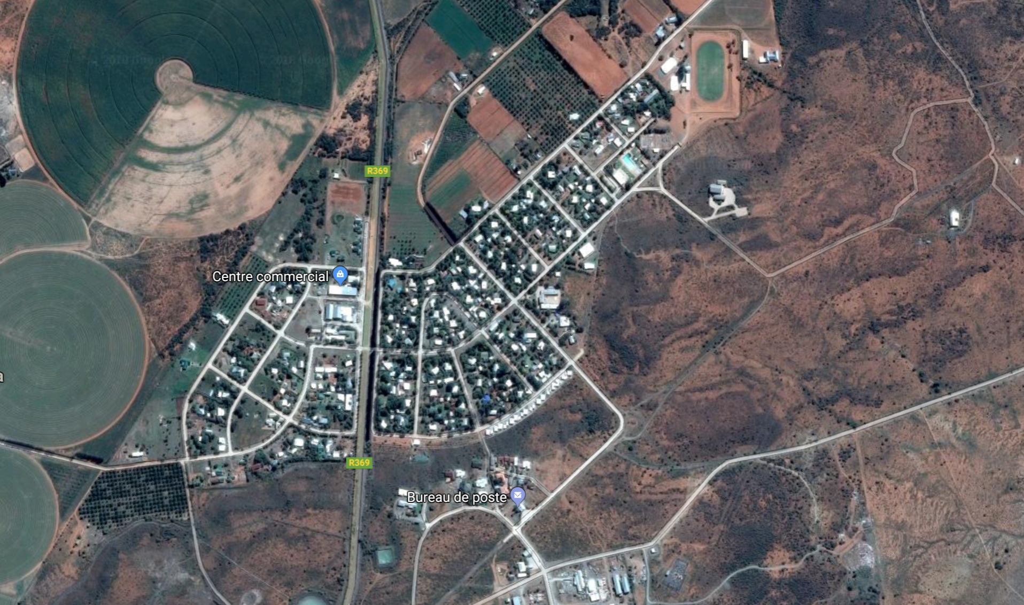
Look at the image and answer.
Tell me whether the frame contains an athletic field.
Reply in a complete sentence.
Yes, there's an athletic field down there.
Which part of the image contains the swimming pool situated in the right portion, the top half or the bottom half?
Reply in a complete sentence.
It is in the top half that the swimming pool situated in the right portion appears.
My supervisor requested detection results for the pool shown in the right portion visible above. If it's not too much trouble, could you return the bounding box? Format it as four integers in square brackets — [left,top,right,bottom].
[620,150,644,176]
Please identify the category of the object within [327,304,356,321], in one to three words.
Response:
building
